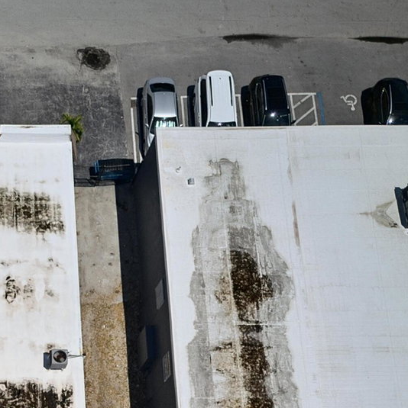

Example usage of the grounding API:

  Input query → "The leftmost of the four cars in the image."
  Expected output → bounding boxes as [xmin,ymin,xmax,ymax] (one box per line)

[138,80,180,155]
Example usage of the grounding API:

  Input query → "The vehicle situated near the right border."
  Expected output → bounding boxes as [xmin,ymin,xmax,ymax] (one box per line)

[363,81,408,125]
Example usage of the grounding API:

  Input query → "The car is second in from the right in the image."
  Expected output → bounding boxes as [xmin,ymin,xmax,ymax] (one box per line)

[242,79,291,125]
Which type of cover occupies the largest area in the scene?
buildings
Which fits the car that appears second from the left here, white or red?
white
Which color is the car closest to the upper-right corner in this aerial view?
black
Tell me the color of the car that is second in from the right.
black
